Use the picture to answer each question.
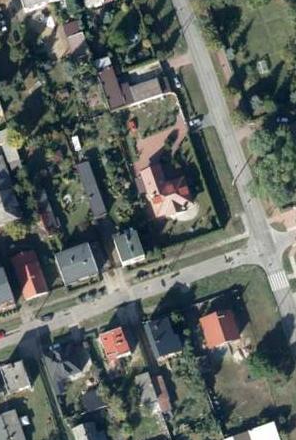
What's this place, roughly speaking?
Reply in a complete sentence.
The picture captures a residential area.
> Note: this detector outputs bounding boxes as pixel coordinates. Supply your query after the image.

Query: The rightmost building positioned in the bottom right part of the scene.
[248,421,280,440]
